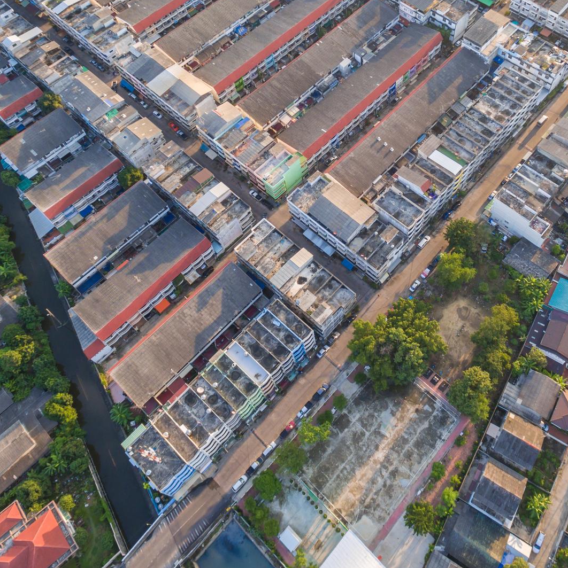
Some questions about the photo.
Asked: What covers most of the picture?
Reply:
buildings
